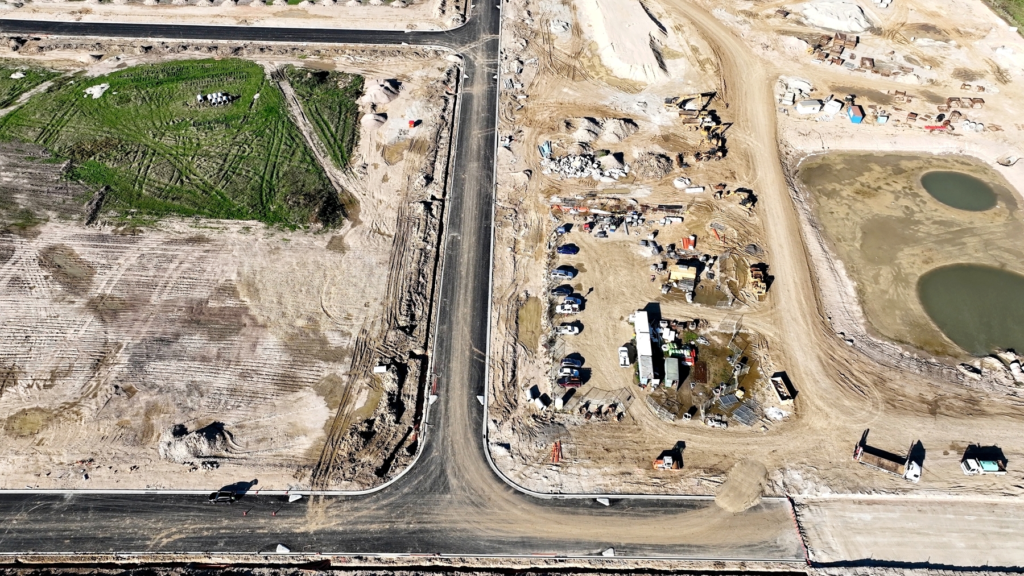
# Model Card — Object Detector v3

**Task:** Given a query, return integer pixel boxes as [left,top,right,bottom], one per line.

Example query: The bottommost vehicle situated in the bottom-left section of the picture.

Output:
[206,490,241,505]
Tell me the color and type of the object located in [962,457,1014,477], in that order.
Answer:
white vehicle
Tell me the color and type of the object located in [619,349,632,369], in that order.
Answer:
white vehicle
